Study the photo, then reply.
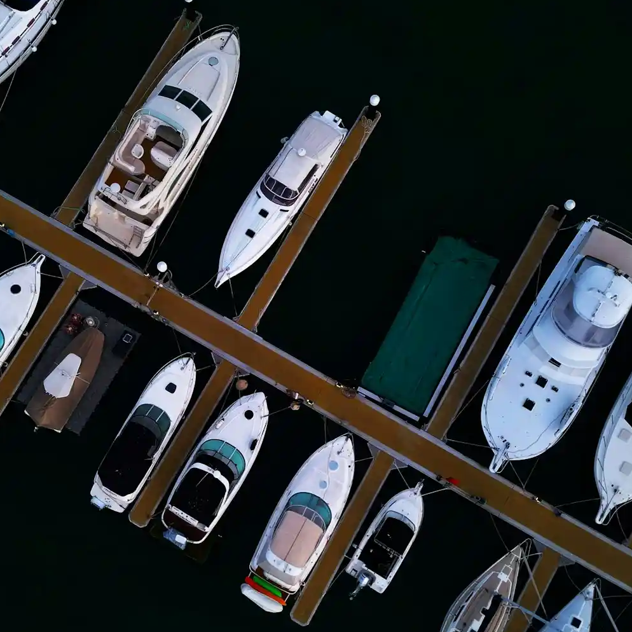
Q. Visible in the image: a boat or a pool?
boat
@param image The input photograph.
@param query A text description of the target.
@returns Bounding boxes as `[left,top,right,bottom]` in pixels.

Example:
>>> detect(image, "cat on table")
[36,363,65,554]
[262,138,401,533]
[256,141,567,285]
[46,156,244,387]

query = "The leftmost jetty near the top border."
[51,11,203,230]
